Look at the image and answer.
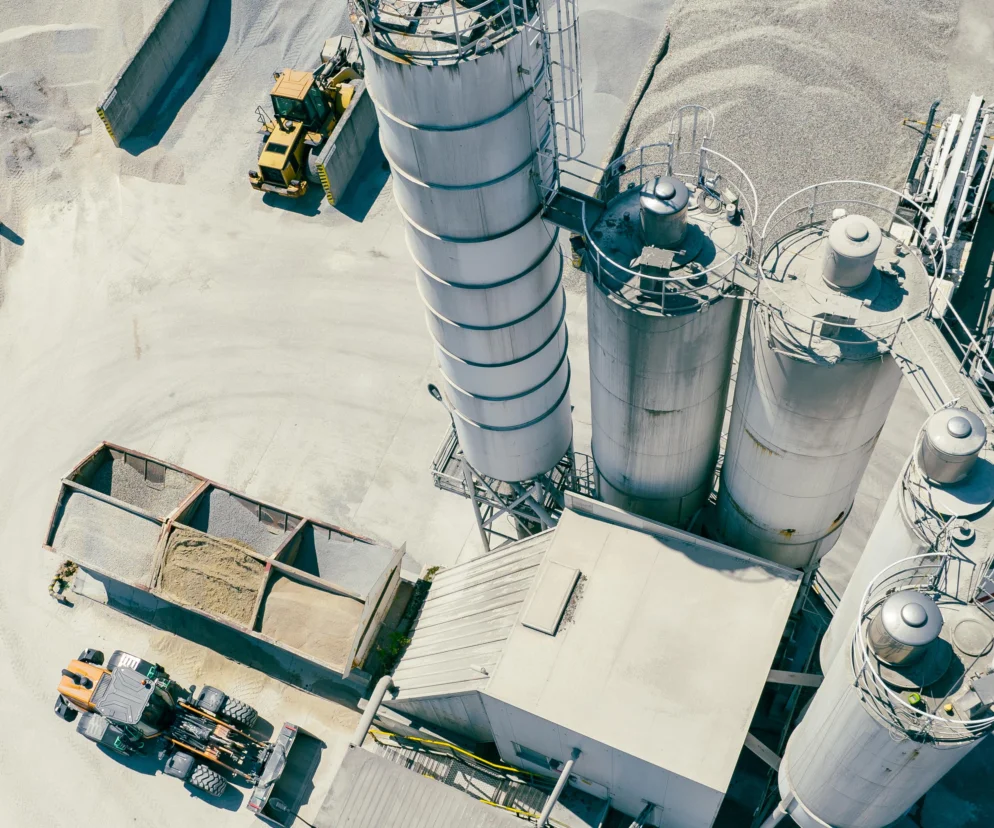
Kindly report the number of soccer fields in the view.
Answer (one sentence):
There are no soccer fields in the image.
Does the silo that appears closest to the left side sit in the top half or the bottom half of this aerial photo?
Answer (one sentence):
The silo that appears closest to the left side sits in the top half of the picture.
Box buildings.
[385,489,808,828]
[306,745,528,828]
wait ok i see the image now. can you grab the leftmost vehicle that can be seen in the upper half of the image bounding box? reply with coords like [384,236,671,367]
[249,32,362,194]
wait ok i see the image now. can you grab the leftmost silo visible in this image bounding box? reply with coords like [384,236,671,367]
[348,0,596,552]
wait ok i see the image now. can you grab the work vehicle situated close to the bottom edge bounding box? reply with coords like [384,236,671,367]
[60,654,324,825]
